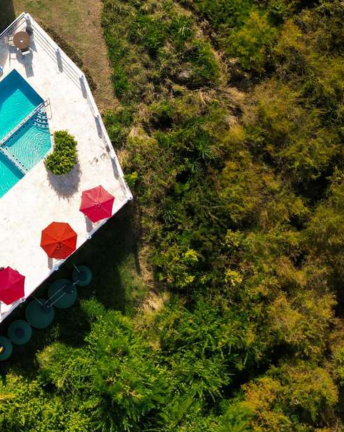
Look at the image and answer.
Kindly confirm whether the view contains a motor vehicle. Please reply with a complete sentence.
No, there isn't any motor vehicle down there.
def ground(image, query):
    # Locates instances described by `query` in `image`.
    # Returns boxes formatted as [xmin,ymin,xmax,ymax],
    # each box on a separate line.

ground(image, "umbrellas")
[78,185,114,223]
[0,266,25,305]
[40,221,77,258]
